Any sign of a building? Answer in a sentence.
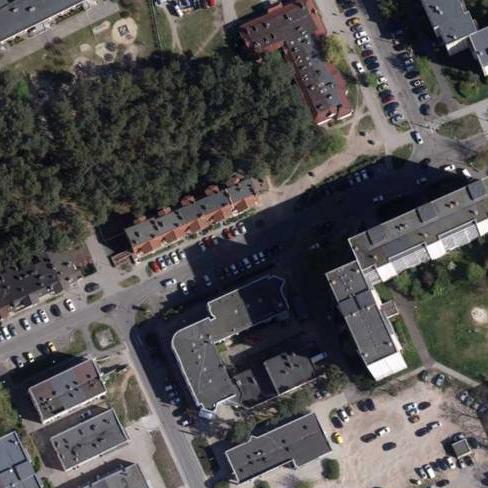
Yes, a building appears in the view.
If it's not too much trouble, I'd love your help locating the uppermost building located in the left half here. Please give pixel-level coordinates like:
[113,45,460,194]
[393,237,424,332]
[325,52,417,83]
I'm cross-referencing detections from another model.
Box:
[0,0,90,45]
